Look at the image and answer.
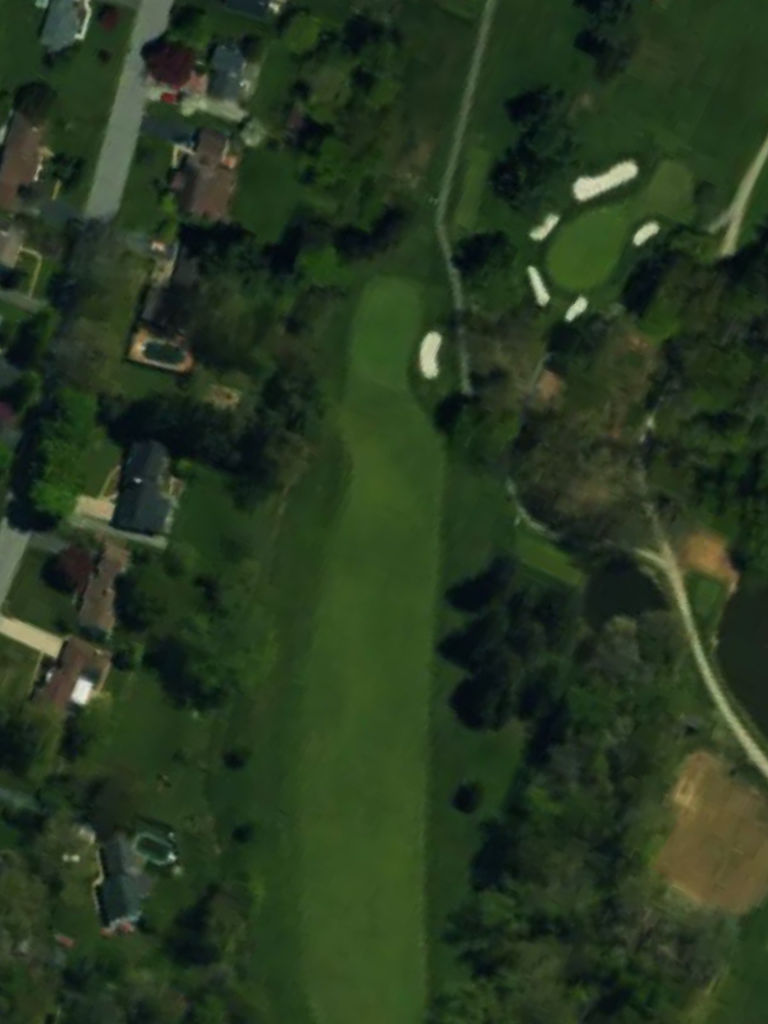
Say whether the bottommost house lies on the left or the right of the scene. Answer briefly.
left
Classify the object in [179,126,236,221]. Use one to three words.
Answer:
house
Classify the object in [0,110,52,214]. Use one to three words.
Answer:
house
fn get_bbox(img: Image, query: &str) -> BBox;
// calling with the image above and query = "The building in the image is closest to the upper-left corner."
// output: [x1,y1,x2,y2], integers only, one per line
[37,0,80,53]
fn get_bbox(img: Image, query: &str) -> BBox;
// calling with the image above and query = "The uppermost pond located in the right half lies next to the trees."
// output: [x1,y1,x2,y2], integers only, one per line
[586,551,667,629]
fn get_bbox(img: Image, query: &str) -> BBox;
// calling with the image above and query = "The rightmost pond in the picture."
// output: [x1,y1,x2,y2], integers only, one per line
[717,560,768,735]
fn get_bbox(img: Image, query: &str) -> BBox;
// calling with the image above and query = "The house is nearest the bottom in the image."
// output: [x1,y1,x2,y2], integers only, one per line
[97,831,153,927]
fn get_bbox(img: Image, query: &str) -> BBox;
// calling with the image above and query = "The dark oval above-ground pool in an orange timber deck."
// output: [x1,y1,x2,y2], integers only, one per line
[131,329,194,372]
